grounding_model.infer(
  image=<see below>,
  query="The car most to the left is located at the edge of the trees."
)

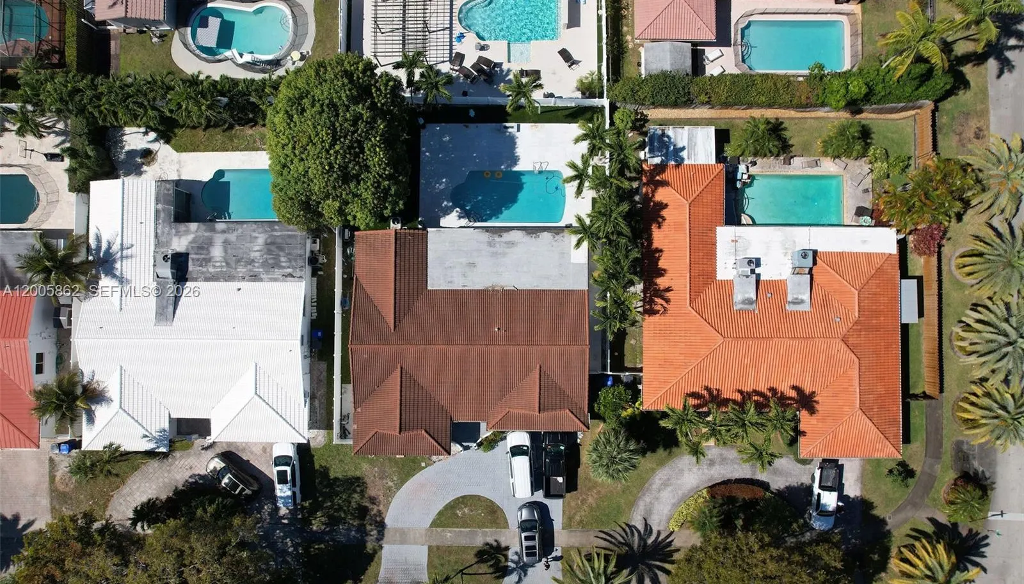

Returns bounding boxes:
[207,457,270,510]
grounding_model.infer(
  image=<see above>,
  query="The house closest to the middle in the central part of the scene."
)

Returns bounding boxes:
[348,227,591,457]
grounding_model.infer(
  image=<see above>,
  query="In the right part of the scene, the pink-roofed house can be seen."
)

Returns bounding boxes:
[634,0,718,44]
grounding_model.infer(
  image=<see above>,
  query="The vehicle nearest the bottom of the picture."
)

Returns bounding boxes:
[514,500,544,565]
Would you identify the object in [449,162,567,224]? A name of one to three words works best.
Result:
swimming pool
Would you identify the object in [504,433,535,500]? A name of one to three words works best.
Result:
car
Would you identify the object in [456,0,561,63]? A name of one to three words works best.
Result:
swimming pool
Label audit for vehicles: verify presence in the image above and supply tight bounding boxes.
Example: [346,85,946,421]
[799,460,842,533]
[269,442,304,508]
[504,433,535,500]
[514,500,544,565]
[207,457,270,510]
[540,433,570,501]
